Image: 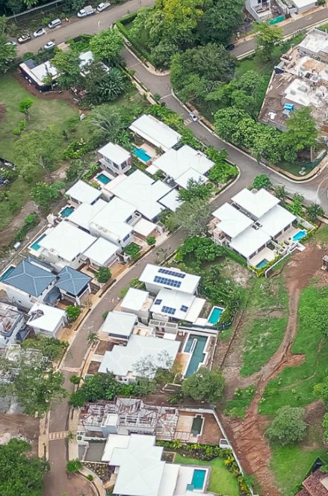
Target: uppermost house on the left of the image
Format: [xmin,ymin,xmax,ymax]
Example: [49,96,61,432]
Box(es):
[19,53,110,96]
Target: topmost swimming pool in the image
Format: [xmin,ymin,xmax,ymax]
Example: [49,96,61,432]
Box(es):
[132,146,153,163]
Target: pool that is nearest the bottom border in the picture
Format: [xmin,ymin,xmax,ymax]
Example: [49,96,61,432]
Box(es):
[190,467,208,492]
